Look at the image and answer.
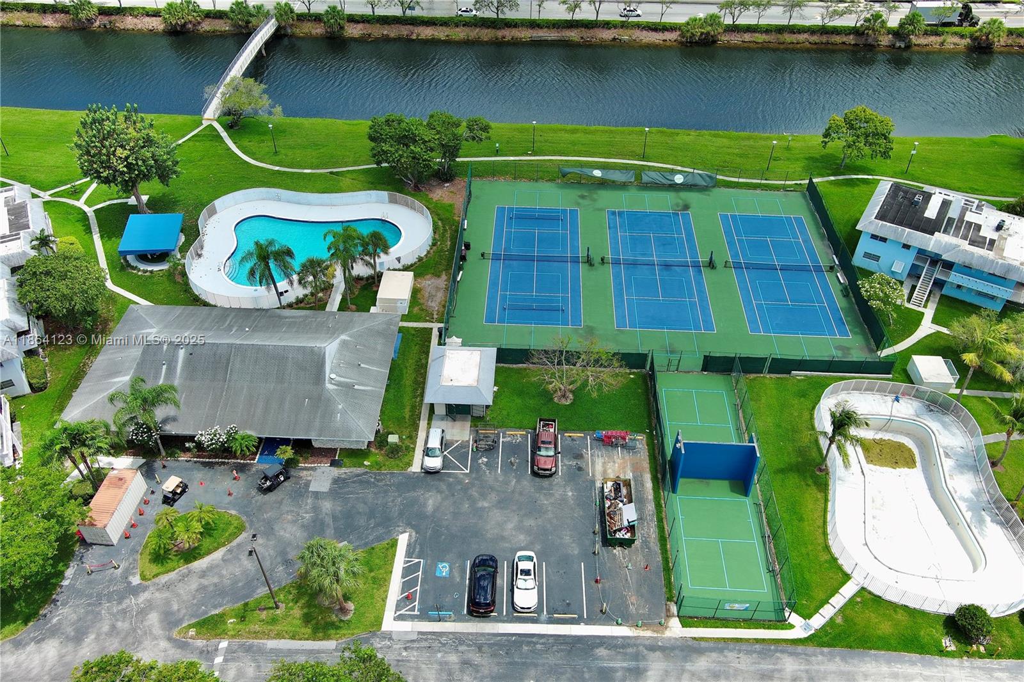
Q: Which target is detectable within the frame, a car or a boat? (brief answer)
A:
car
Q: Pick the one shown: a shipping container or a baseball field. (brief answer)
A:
shipping container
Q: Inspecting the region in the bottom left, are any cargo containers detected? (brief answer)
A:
Yes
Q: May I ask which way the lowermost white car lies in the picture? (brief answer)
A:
from top to bottom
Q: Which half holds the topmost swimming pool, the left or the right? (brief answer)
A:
left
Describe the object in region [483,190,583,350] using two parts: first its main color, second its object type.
blue tennis court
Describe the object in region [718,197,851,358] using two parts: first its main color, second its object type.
blue tennis court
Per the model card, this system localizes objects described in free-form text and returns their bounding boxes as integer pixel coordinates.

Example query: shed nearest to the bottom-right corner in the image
[906,355,964,398]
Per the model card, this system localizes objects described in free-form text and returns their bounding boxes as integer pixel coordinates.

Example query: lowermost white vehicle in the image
[511,550,539,607]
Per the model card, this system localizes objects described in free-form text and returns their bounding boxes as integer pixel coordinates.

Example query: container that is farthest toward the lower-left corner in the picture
[76,467,143,546]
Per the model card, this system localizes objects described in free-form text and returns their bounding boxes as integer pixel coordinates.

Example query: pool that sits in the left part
[190,199,433,308]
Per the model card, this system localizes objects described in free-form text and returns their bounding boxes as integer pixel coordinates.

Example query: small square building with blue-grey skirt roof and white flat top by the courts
[425,346,497,421]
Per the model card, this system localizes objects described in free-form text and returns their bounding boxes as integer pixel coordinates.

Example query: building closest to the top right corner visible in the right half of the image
[851,179,1024,311]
